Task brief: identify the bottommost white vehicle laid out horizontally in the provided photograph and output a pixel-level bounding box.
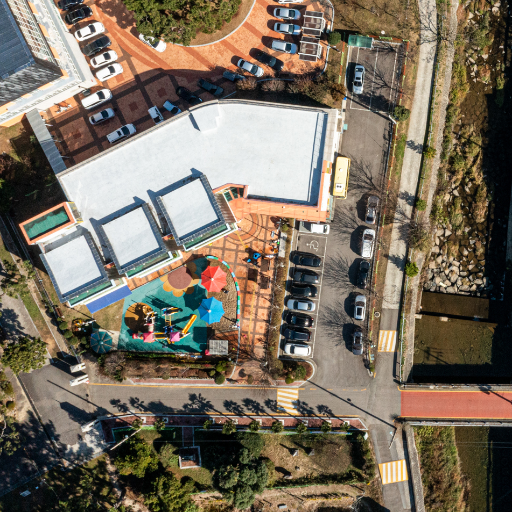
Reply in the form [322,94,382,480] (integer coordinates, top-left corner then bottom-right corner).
[284,343,313,356]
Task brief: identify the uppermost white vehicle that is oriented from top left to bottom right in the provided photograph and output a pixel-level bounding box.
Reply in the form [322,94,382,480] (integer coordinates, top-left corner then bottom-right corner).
[137,30,167,54]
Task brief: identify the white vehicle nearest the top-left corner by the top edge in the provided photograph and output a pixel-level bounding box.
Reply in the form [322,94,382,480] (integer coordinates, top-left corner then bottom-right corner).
[75,23,105,41]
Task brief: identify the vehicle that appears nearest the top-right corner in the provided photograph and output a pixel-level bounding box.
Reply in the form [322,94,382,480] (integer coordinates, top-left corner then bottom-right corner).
[351,64,366,94]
